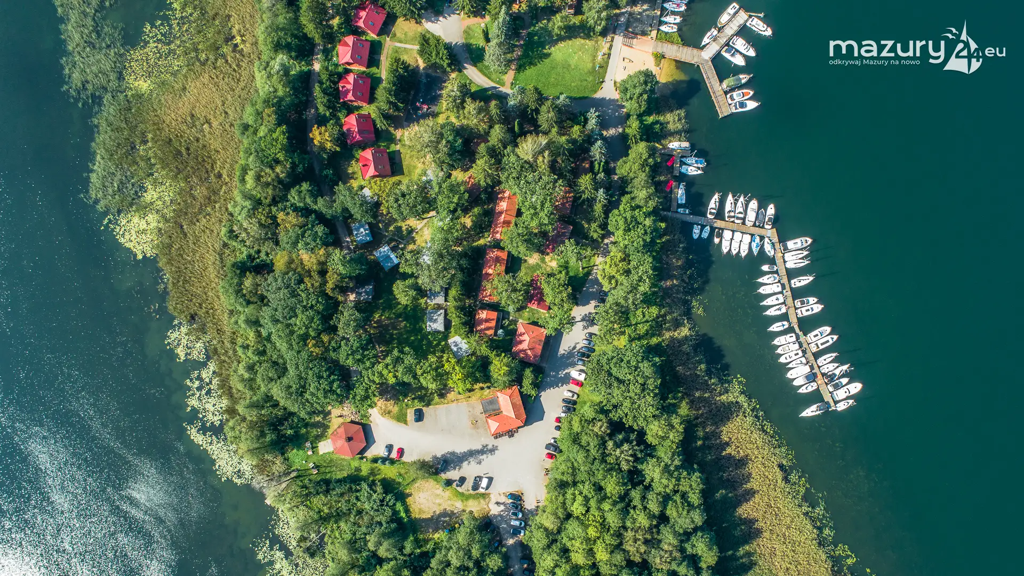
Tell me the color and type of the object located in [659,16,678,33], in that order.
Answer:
white boat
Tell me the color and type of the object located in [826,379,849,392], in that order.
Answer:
white boat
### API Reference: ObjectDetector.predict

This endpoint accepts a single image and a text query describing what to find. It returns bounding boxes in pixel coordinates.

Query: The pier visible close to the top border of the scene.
[652,7,764,118]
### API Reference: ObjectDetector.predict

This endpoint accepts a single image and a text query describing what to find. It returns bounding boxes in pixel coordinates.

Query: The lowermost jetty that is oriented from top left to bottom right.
[657,181,836,412]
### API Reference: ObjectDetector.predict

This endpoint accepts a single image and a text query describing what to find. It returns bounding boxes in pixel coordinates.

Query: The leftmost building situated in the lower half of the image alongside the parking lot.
[330,422,367,457]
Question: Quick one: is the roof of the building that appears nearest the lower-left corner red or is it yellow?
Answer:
red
